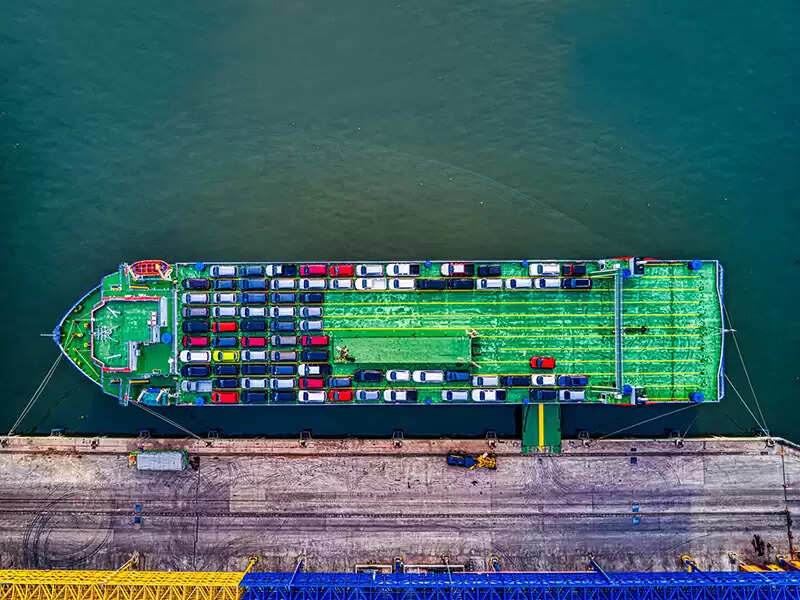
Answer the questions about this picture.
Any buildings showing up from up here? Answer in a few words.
No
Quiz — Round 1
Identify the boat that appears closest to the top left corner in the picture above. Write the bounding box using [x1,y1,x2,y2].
[129,259,171,277]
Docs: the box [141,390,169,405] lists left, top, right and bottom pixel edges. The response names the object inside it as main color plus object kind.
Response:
blue boat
